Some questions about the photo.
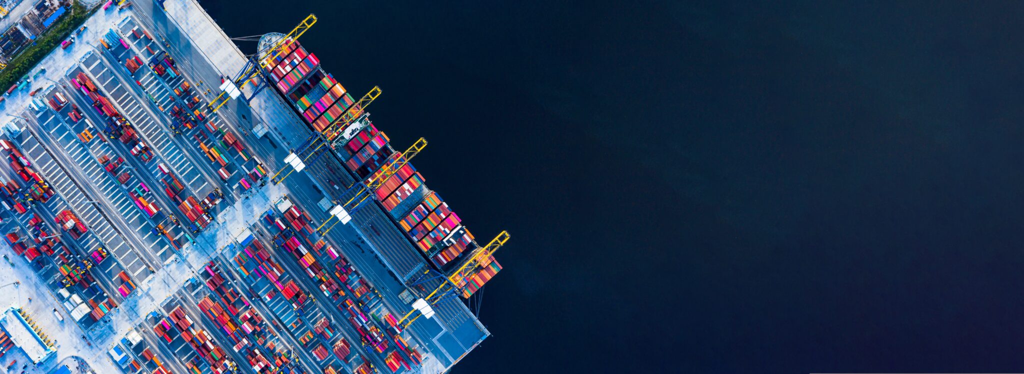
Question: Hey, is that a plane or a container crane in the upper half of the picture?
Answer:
container crane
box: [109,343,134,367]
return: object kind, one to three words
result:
building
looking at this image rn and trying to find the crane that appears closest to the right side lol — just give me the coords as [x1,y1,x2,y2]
[398,230,511,332]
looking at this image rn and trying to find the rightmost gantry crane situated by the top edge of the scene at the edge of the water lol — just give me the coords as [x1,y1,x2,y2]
[205,12,319,113]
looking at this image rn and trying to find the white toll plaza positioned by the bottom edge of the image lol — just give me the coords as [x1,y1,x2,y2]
[0,305,57,366]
